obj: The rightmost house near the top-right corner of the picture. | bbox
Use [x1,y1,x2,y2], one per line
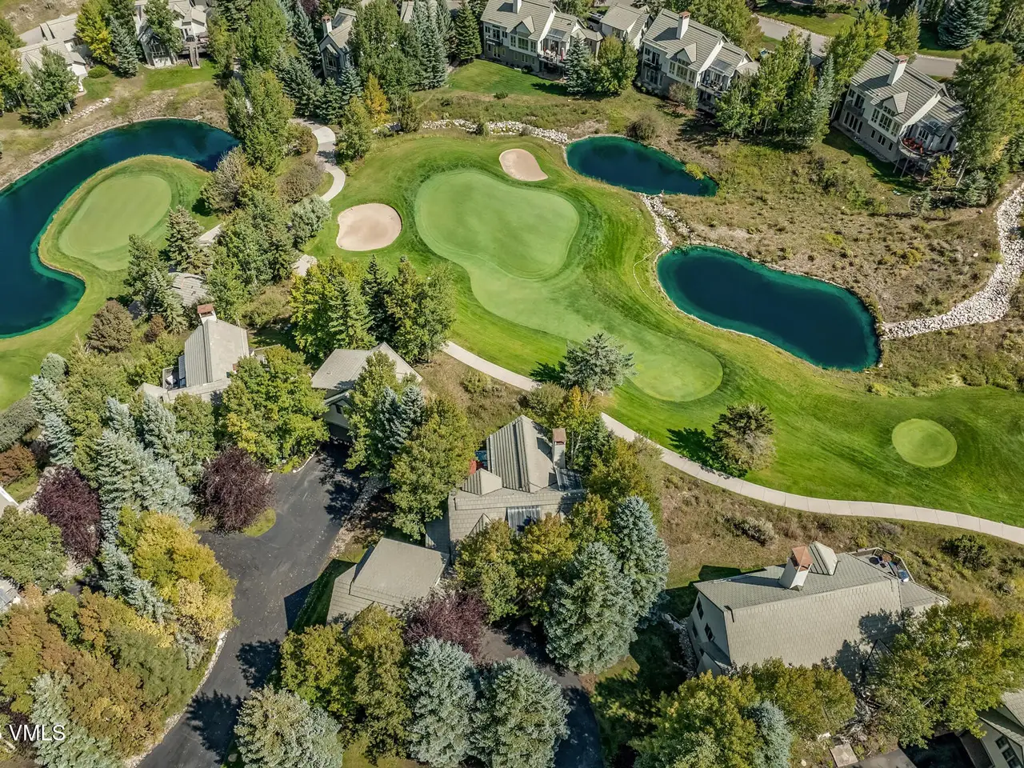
[840,50,980,172]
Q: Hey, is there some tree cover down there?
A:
Yes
